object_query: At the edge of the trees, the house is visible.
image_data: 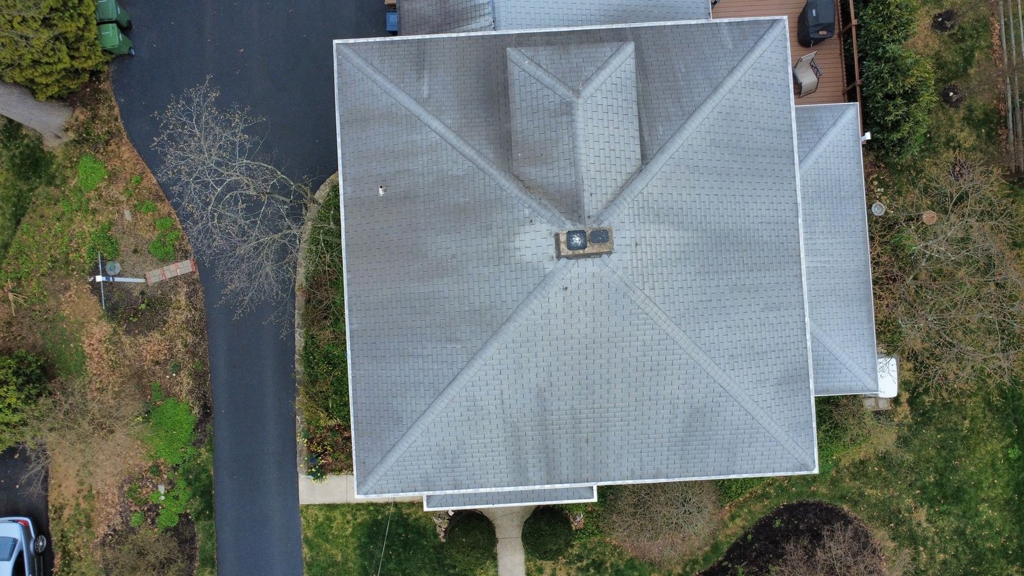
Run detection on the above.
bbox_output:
[335,0,878,510]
